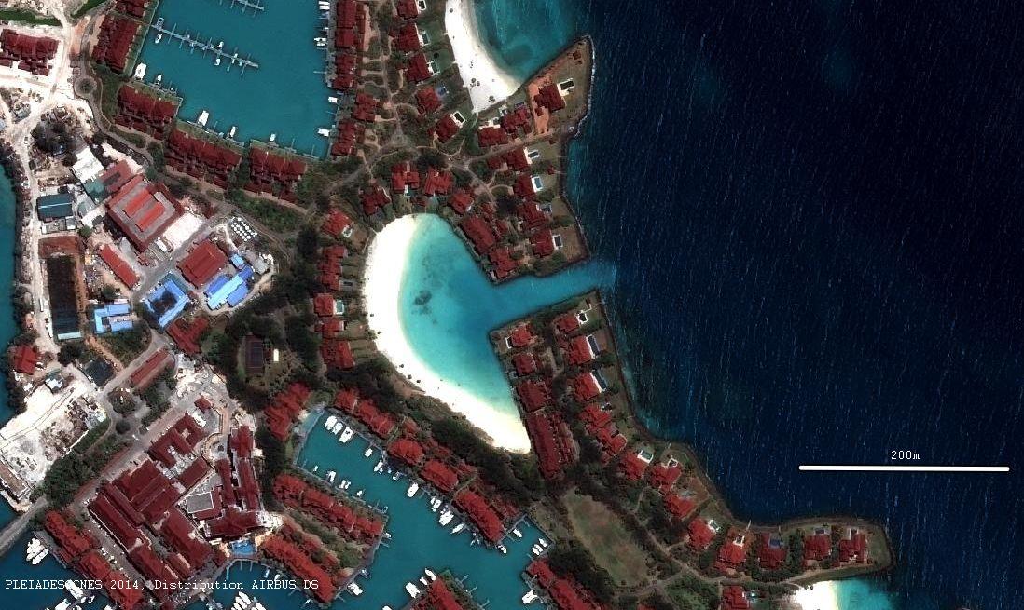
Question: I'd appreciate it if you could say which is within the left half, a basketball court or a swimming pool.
swimming pool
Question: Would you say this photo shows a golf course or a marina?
marina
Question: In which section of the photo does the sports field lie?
bottom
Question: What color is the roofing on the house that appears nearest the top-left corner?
red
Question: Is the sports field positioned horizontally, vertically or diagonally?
diagonally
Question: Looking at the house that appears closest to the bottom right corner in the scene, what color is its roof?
red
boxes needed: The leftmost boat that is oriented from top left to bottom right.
[66,582,85,600]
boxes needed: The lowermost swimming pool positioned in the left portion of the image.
[228,539,258,560]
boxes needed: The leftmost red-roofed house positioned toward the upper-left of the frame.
[0,27,59,77]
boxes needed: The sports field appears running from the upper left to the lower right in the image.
[567,494,647,585]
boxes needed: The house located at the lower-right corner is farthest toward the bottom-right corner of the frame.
[836,533,870,566]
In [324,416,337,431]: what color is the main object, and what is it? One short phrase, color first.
white boat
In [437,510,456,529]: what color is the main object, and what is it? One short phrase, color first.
white boat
